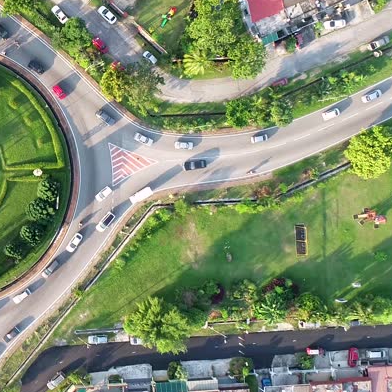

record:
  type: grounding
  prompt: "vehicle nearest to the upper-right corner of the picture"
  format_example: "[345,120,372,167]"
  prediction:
[364,36,388,52]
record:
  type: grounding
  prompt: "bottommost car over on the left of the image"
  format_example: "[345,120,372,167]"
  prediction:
[45,371,66,389]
